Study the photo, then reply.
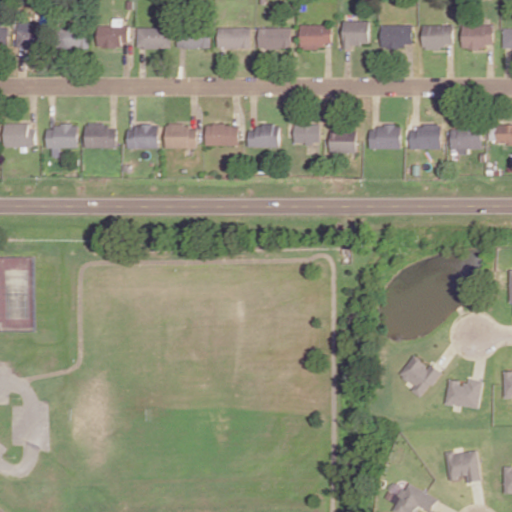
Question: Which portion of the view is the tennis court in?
left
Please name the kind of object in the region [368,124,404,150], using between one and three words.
house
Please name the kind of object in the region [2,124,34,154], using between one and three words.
house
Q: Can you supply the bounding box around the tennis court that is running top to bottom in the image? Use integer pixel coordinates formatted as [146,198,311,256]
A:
[0,257,35,330]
